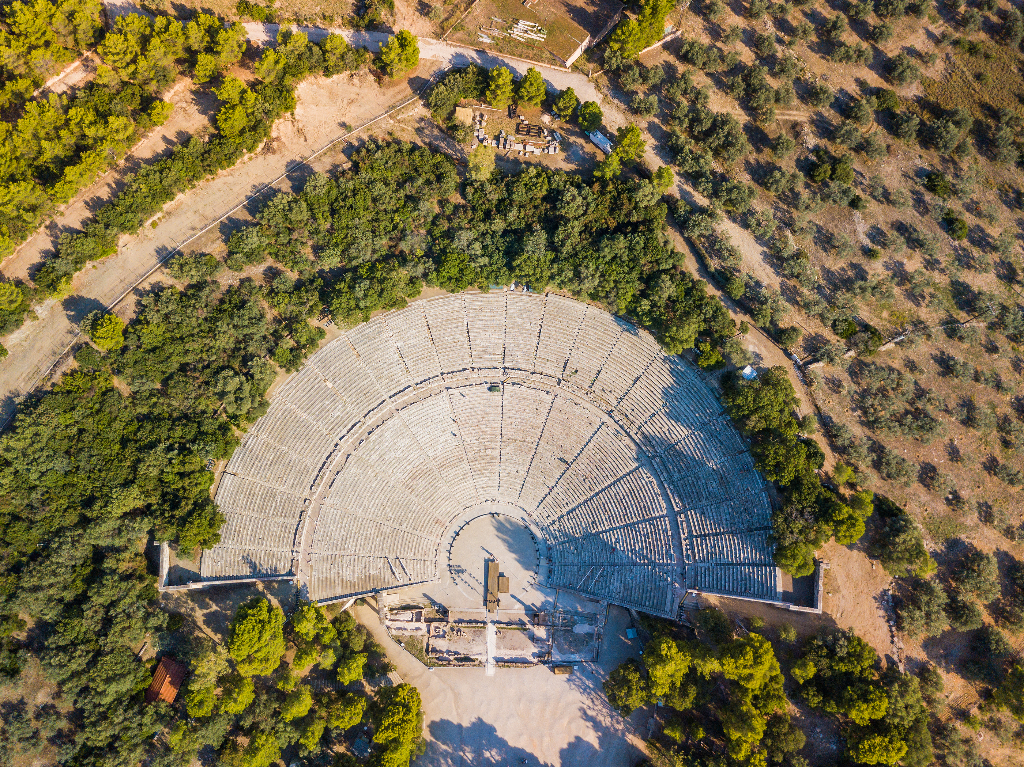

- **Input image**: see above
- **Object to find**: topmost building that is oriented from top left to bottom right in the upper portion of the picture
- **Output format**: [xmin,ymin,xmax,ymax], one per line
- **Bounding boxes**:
[497,0,588,69]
